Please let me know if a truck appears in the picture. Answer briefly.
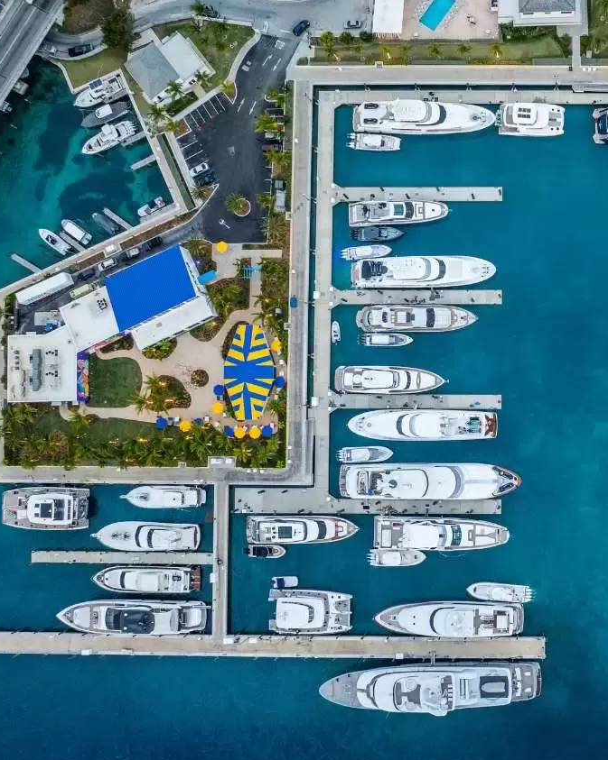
Yes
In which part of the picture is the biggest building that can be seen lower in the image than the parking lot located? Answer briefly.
left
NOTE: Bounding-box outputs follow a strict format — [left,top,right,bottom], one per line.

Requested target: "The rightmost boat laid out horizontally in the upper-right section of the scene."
[495,103,564,136]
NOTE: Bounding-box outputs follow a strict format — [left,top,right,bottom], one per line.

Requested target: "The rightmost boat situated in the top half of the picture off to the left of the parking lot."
[138,196,168,216]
